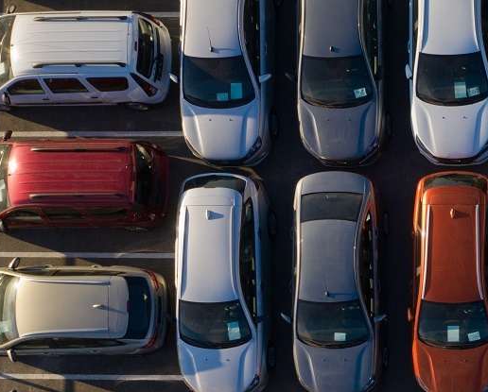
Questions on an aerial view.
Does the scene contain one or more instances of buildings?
No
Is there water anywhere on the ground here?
No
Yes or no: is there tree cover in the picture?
No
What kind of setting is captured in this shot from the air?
parking lot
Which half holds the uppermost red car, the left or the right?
left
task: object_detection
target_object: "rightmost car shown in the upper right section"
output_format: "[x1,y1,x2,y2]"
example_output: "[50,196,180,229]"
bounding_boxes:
[397,0,488,168]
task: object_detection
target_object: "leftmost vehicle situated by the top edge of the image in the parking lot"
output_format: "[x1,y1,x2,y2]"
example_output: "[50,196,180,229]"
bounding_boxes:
[0,0,177,115]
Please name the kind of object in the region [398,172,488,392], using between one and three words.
car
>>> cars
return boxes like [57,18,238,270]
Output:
[0,0,177,115]
[160,172,279,392]
[280,0,392,170]
[163,0,282,169]
[0,125,175,236]
[0,254,173,364]
[398,172,488,392]
[274,169,386,392]
[397,0,488,168]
